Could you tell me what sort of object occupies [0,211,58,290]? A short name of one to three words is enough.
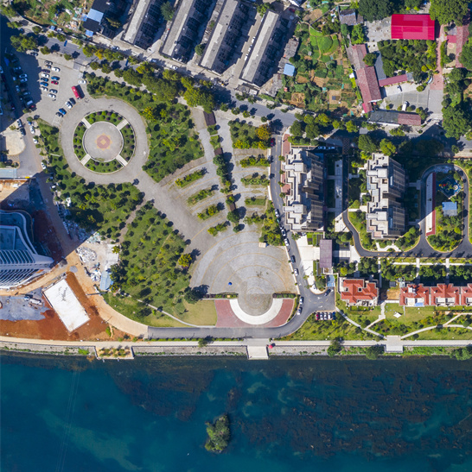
building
